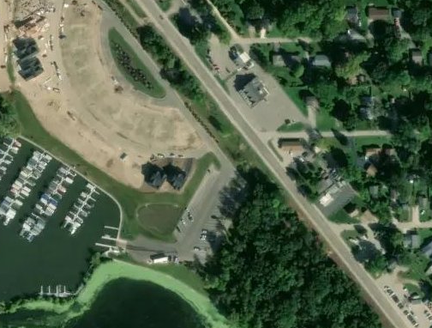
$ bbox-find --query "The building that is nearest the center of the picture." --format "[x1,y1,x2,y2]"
[166,165,189,188]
